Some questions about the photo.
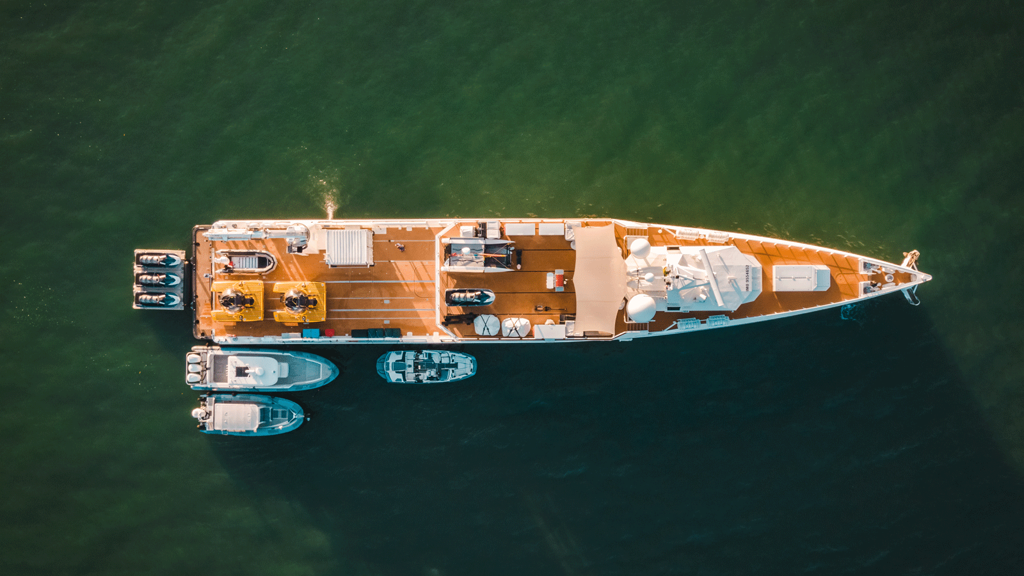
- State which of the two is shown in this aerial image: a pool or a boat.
boat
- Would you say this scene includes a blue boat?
Yes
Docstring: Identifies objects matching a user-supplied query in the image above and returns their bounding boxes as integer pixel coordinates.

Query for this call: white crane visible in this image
[208,221,316,256]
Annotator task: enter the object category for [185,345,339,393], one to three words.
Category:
boat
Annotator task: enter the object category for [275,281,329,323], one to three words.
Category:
ship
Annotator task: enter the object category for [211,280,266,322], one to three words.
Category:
ship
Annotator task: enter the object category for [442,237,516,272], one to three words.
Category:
boat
